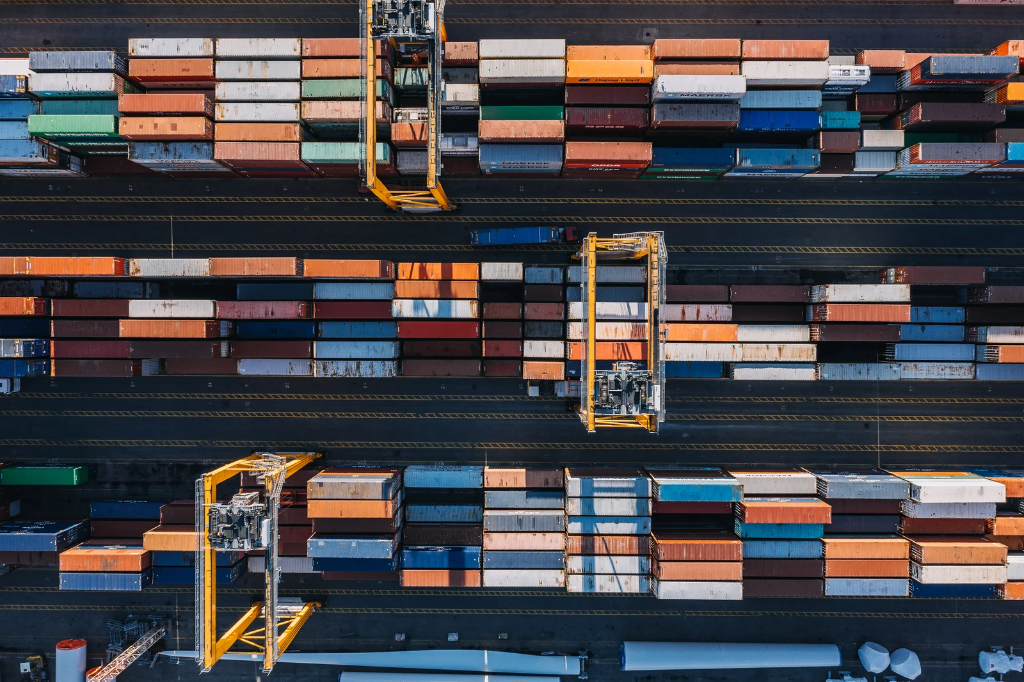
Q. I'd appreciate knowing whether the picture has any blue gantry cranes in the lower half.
No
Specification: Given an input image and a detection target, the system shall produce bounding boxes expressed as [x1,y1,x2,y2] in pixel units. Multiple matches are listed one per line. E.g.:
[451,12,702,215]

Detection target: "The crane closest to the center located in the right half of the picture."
[561,229,671,437]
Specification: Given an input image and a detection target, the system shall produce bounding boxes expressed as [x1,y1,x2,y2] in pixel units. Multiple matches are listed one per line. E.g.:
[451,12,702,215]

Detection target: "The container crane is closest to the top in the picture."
[358,0,467,215]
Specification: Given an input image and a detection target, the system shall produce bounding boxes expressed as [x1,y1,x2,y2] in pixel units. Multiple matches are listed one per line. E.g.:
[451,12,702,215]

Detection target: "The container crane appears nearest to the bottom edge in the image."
[194,443,334,671]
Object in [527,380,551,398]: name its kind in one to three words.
vehicle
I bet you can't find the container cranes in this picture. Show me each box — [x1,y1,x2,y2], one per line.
[358,0,467,215]
[194,443,334,671]
[561,229,671,437]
